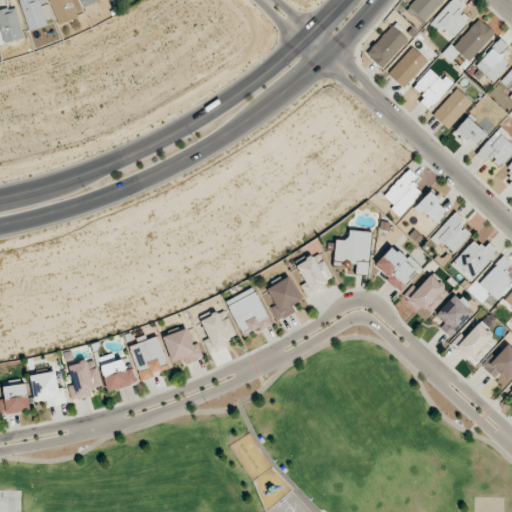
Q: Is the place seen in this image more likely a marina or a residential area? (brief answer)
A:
residential area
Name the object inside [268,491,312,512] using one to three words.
basketball court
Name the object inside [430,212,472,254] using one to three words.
house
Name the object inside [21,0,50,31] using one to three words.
house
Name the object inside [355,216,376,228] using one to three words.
swimming pool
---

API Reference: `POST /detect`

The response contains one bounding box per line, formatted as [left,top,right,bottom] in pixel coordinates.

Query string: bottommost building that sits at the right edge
[482,342,512,385]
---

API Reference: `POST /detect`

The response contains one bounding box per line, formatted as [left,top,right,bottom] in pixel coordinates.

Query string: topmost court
[230,433,272,480]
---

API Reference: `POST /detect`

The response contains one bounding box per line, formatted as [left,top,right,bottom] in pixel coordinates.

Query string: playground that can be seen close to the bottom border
[254,468,292,512]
